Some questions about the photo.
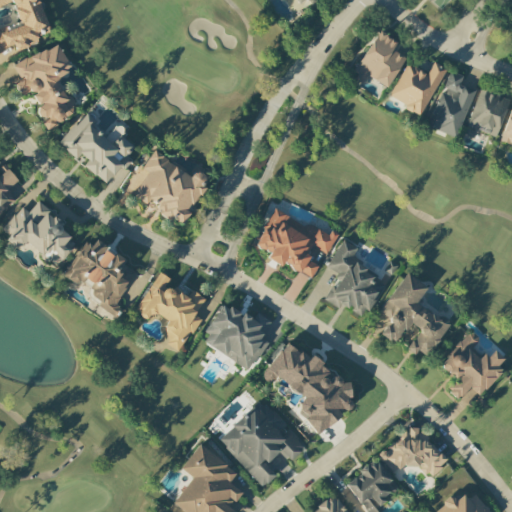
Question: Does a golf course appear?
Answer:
Yes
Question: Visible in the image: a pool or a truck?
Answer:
pool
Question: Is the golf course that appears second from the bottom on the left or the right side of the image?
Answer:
right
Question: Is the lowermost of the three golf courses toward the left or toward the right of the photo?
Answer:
left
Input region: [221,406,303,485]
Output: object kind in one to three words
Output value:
house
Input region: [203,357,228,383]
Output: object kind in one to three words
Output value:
swimming pool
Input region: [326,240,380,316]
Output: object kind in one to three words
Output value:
house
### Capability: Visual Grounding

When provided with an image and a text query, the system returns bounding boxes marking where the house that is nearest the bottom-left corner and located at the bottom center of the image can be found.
[175,445,244,512]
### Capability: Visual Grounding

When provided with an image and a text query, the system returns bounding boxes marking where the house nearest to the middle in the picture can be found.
[258,211,339,277]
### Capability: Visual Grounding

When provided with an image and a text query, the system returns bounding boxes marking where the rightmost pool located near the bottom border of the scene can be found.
[406,474,426,490]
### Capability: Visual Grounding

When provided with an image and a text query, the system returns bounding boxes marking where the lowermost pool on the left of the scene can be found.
[161,470,188,493]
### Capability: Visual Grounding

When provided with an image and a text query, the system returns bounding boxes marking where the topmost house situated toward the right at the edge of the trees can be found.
[362,32,407,86]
